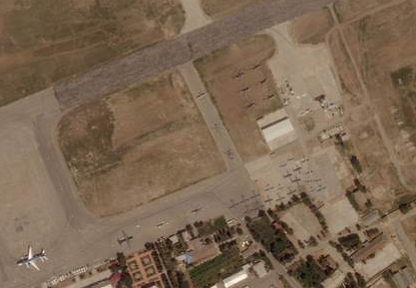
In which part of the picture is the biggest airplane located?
bottom left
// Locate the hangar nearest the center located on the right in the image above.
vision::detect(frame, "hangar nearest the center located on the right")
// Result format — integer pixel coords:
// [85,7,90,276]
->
[262,118,294,142]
